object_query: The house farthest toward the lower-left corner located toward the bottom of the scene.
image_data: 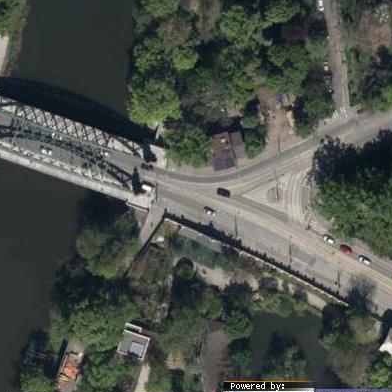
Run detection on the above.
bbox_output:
[117,322,148,361]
